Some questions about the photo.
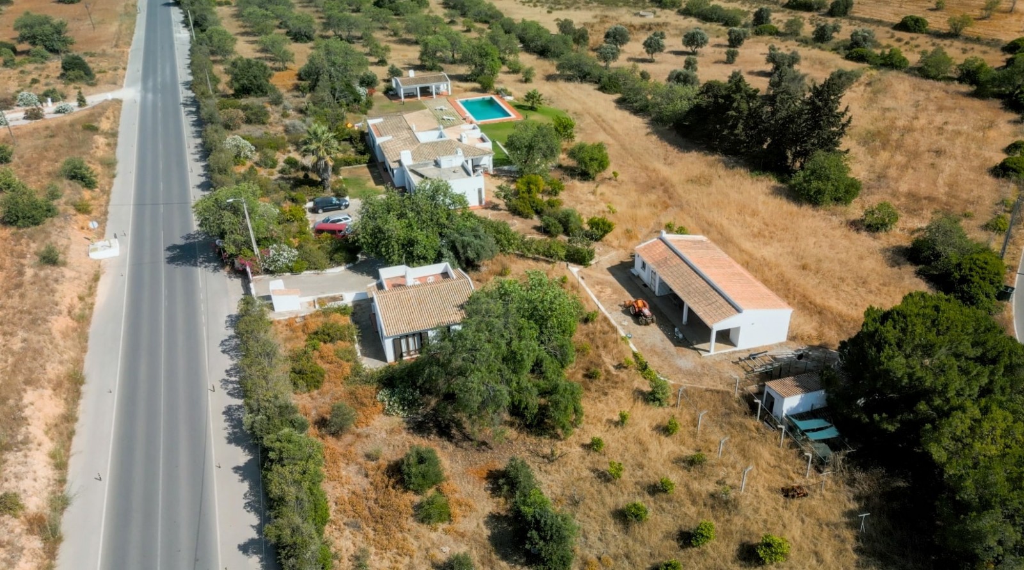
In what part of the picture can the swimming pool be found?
top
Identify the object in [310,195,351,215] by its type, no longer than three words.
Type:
car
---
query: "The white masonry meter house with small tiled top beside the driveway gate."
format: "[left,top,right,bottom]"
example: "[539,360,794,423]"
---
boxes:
[272,280,299,310]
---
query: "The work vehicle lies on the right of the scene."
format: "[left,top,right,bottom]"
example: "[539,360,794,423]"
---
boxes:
[627,294,654,325]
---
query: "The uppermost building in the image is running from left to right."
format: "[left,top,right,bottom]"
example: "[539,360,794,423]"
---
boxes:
[384,69,454,102]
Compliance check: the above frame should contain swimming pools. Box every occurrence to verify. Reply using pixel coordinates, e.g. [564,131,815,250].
[448,94,522,124]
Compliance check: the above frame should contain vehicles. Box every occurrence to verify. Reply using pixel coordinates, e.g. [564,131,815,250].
[312,222,352,241]
[310,195,351,215]
[627,294,654,325]
[313,210,353,226]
